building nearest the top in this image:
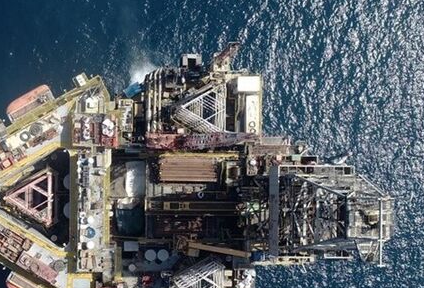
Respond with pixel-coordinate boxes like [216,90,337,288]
[177,55,201,74]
